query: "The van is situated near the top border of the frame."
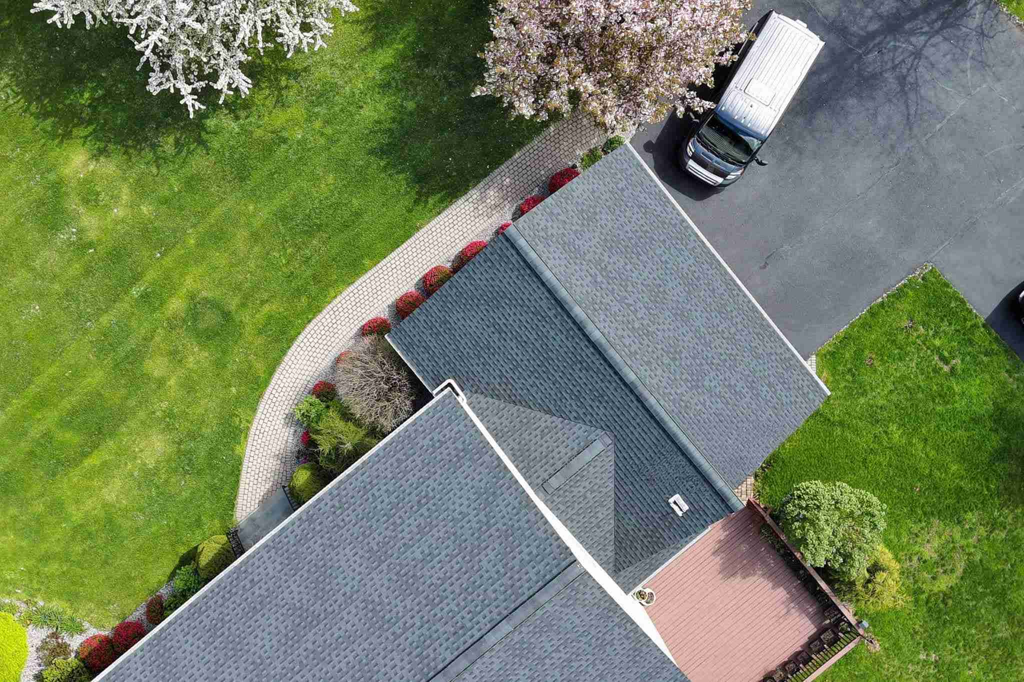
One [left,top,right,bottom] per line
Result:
[682,14,821,192]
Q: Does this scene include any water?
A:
No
